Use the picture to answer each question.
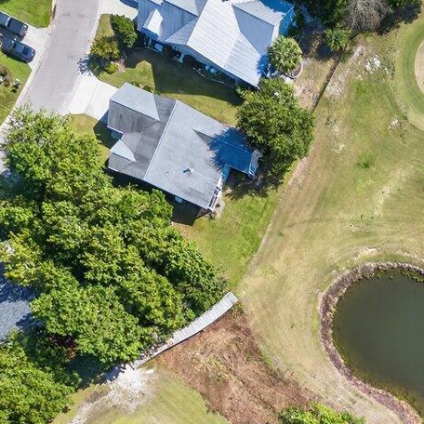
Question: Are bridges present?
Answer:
Yes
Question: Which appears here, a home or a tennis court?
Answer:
home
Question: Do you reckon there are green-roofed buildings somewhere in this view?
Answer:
No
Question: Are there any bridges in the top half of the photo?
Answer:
No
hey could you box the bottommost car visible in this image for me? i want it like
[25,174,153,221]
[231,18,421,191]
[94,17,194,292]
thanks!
[0,36,40,65]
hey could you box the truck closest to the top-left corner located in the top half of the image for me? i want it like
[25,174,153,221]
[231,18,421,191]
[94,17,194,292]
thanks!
[0,10,33,43]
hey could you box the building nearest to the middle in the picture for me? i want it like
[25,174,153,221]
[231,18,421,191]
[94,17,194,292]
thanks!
[108,82,255,211]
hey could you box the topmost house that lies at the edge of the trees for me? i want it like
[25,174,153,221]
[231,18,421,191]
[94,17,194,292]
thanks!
[138,0,296,90]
